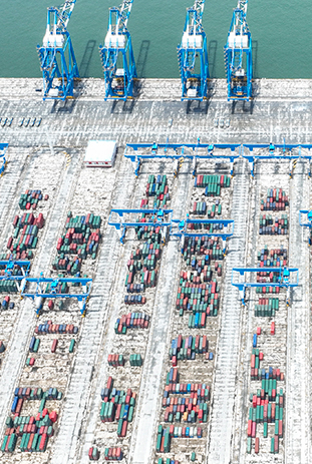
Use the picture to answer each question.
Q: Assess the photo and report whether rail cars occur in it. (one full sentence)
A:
No, I find no rail car anywhere in the image.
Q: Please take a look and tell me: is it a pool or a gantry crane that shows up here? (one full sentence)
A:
There is a gantry crane in the scene.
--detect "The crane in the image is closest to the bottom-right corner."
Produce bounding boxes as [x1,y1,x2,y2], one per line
[231,262,298,306]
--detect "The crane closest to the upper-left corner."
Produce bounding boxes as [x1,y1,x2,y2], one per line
[35,0,83,100]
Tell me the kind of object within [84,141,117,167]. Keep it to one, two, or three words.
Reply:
shed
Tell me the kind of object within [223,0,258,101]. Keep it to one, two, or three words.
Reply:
container crane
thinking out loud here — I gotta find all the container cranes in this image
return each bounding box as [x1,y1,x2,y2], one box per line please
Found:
[299,208,312,246]
[109,203,174,245]
[35,0,83,100]
[231,262,298,306]
[183,138,243,176]
[243,138,300,176]
[21,272,94,317]
[0,144,15,176]
[97,0,141,100]
[0,255,32,299]
[223,0,258,101]
[175,0,214,100]
[125,138,185,177]
[169,213,234,255]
